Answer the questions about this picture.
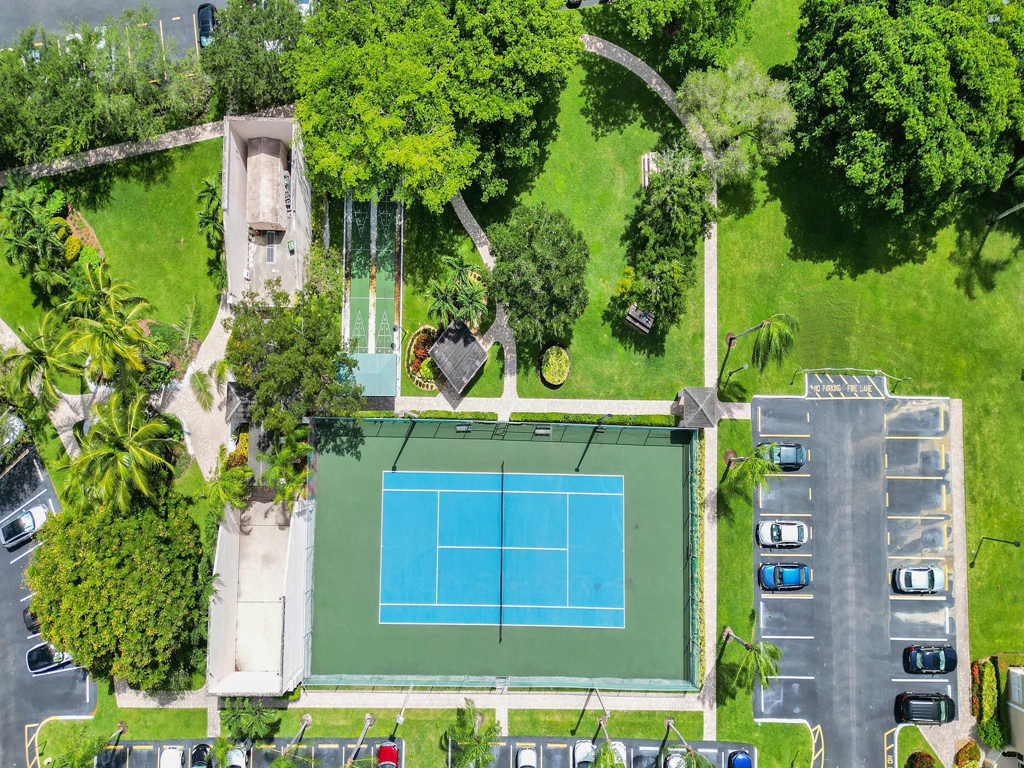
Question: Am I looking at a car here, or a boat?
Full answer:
Looking from above, you can make out a car.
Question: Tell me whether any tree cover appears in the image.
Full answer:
Yes, there's tree cover in this view.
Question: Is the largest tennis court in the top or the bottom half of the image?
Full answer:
You can find the largest tennis court in the bottom half.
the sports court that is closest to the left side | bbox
[204,498,306,697]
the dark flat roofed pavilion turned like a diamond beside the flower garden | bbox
[429,320,489,394]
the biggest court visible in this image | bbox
[313,420,690,680]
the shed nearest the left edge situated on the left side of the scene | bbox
[247,137,286,229]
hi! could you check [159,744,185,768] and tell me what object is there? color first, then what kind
white car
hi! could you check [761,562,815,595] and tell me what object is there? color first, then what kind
blue car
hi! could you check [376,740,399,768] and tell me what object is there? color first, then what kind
red car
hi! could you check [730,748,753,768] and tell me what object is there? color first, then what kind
blue car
